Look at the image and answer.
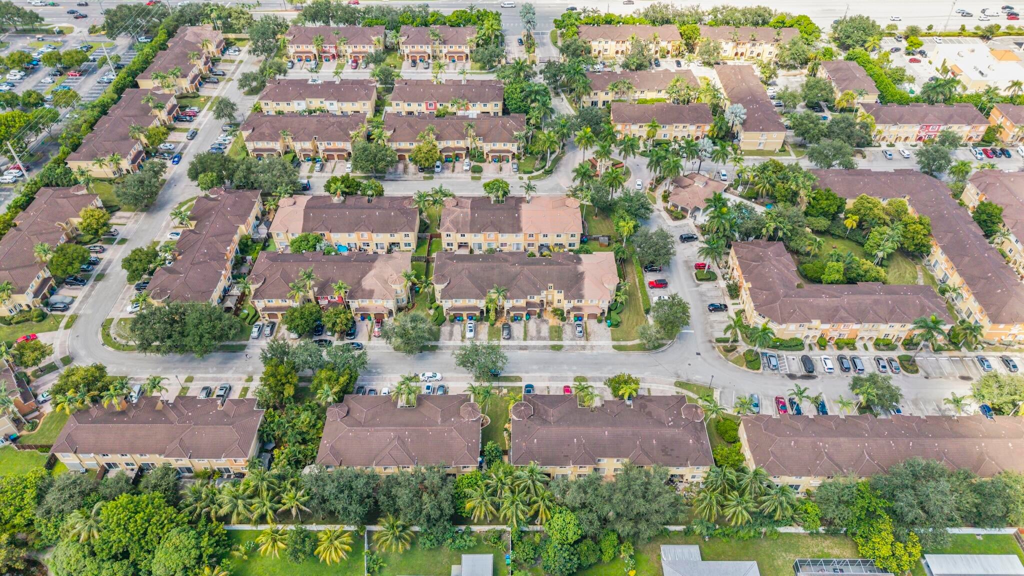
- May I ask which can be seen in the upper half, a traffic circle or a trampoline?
traffic circle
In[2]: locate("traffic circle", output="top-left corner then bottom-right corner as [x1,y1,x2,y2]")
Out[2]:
[559,145,648,196]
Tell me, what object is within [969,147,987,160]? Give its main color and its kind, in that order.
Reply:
white vehicle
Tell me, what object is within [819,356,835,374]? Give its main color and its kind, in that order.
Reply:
white car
